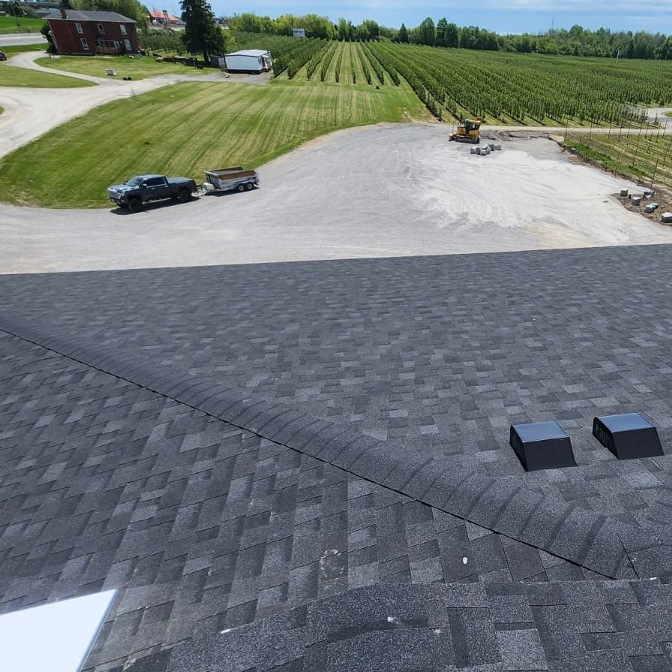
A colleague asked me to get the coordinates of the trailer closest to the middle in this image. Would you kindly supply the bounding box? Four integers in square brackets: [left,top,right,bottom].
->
[196,165,260,192]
